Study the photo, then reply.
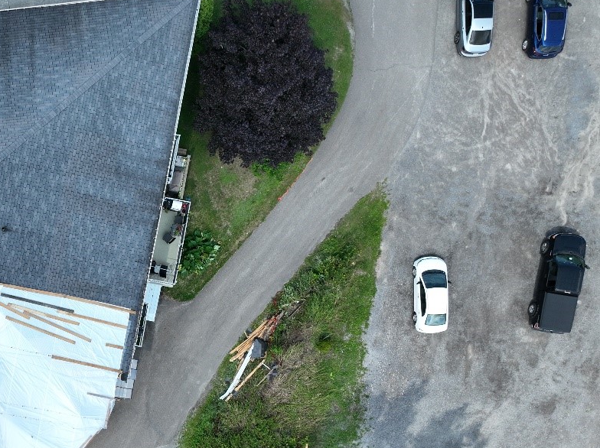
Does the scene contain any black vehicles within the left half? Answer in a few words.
No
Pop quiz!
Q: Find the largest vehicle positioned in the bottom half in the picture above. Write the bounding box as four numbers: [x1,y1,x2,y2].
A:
[533,232,590,335]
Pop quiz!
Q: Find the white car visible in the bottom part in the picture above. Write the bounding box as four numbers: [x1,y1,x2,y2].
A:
[411,257,453,333]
